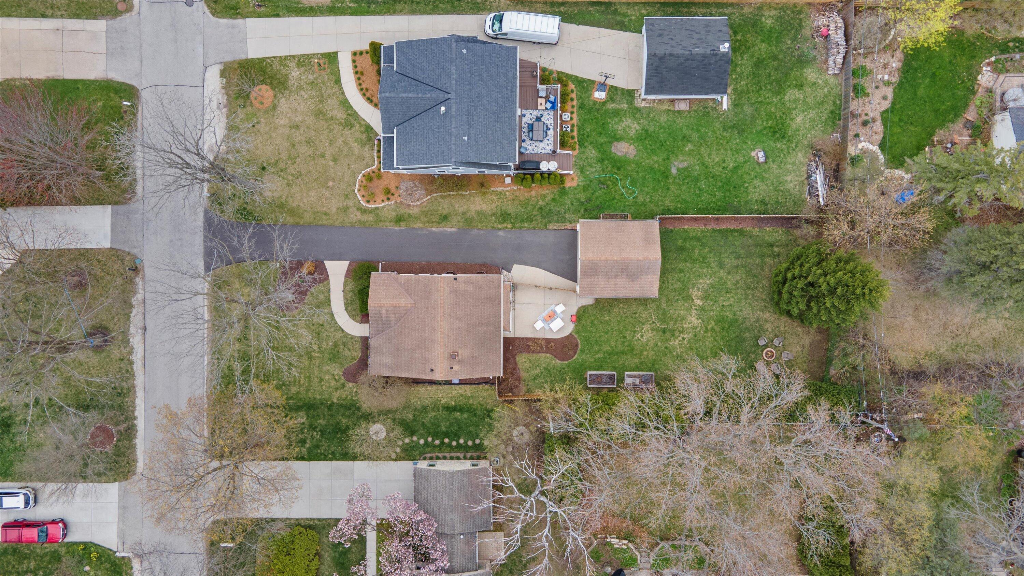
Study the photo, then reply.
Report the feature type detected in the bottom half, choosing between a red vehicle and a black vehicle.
red vehicle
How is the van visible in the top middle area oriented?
from left to right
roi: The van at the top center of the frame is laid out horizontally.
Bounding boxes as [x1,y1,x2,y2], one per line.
[486,11,560,47]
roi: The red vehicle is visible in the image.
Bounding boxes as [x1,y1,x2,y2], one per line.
[0,516,67,546]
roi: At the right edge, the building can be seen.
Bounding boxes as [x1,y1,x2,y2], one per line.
[990,106,1024,191]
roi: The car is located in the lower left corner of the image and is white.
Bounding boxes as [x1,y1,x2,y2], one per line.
[0,484,38,510]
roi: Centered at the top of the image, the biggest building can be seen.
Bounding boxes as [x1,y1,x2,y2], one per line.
[378,33,521,178]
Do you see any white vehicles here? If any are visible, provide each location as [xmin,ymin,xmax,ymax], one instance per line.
[486,11,560,47]
[0,484,38,510]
